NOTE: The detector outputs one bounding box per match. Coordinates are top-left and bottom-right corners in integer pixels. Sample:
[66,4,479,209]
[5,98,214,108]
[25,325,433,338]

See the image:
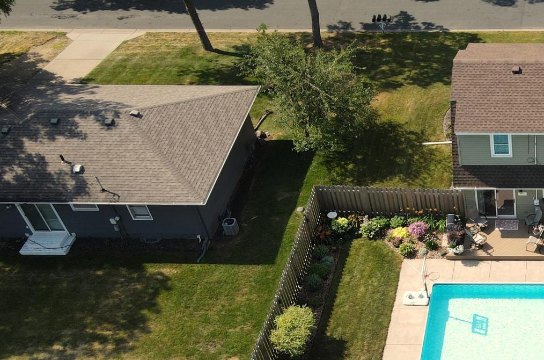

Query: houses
[422,43,544,219]
[0,84,266,261]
